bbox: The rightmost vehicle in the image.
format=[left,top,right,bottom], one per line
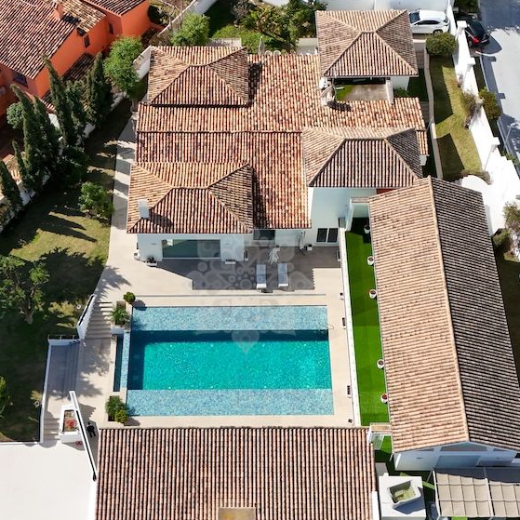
[458,12,496,47]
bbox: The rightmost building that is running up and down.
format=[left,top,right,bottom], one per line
[369,178,520,469]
